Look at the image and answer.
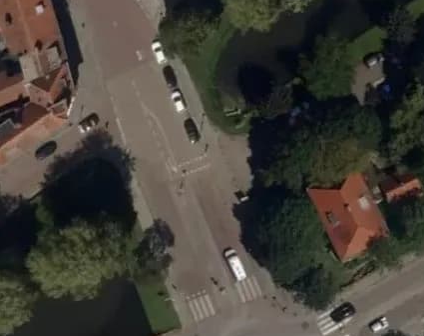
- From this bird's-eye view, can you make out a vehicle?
Yes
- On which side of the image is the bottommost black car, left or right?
right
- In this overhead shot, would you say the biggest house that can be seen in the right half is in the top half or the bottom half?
bottom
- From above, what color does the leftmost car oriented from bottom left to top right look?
black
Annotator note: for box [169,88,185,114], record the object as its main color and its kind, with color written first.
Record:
white car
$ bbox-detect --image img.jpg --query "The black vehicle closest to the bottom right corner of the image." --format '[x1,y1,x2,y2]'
[328,301,357,323]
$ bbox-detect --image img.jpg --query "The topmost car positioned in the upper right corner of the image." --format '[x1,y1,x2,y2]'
[360,52,384,69]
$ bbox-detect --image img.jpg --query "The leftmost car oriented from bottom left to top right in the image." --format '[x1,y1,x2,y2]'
[33,140,58,160]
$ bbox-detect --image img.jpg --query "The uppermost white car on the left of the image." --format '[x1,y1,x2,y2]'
[151,40,168,64]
